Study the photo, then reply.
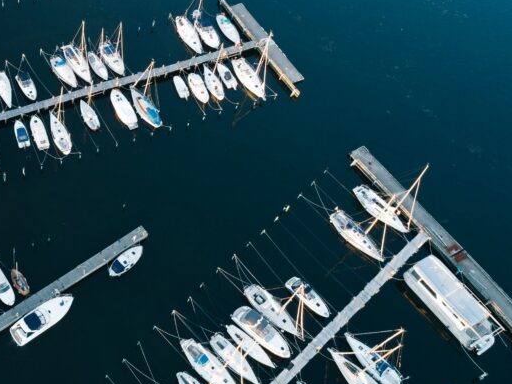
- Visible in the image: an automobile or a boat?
boat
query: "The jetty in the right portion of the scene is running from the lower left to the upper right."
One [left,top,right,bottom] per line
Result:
[268,230,431,384]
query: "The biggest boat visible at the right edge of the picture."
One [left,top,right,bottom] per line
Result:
[402,238,509,372]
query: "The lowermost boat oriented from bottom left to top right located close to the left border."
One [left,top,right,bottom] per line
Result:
[2,290,74,351]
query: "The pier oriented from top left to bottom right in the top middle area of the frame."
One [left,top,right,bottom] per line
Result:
[229,3,304,84]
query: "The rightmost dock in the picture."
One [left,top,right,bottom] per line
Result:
[351,146,512,328]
